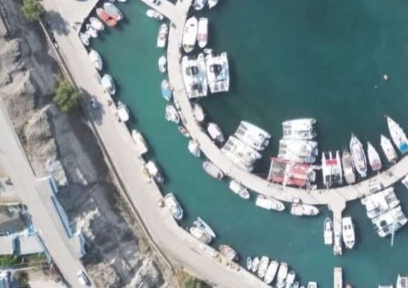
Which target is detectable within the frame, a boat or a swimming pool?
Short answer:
boat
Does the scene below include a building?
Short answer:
Yes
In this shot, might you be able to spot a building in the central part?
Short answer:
No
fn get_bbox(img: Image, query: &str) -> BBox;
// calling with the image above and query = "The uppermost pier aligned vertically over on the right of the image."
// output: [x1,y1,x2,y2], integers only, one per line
[326,202,346,255]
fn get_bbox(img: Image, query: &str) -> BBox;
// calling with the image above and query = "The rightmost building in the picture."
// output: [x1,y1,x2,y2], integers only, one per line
[19,229,48,255]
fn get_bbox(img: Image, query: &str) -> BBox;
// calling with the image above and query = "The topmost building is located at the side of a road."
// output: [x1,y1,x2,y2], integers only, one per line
[0,203,25,231]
